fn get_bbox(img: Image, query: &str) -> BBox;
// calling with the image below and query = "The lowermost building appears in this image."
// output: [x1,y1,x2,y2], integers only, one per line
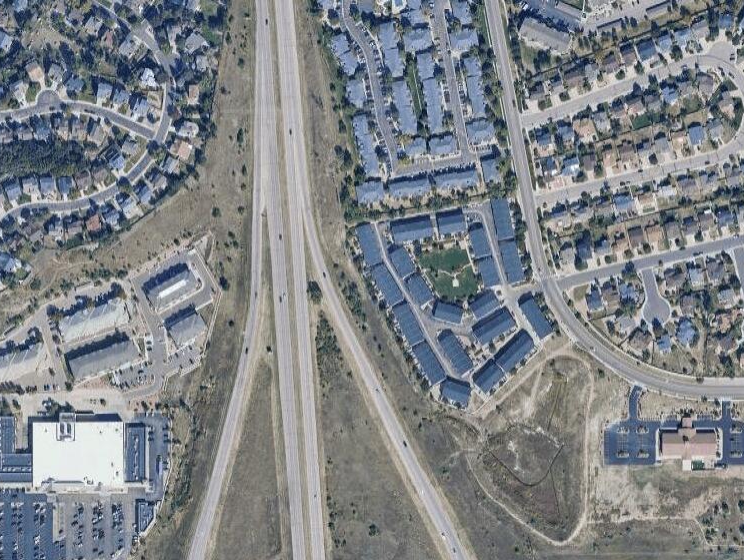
[139,502,154,533]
